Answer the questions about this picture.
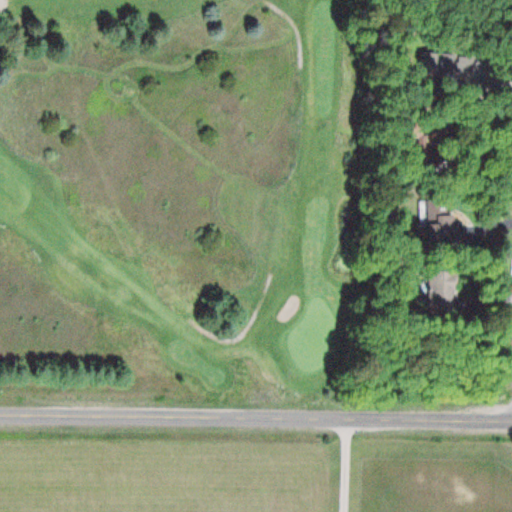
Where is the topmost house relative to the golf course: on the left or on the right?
to the right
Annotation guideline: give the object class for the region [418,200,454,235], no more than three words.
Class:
house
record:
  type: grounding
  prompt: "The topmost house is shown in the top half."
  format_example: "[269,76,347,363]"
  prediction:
[428,51,477,78]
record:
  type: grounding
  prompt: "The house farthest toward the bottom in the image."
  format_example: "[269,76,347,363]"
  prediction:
[430,271,459,309]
